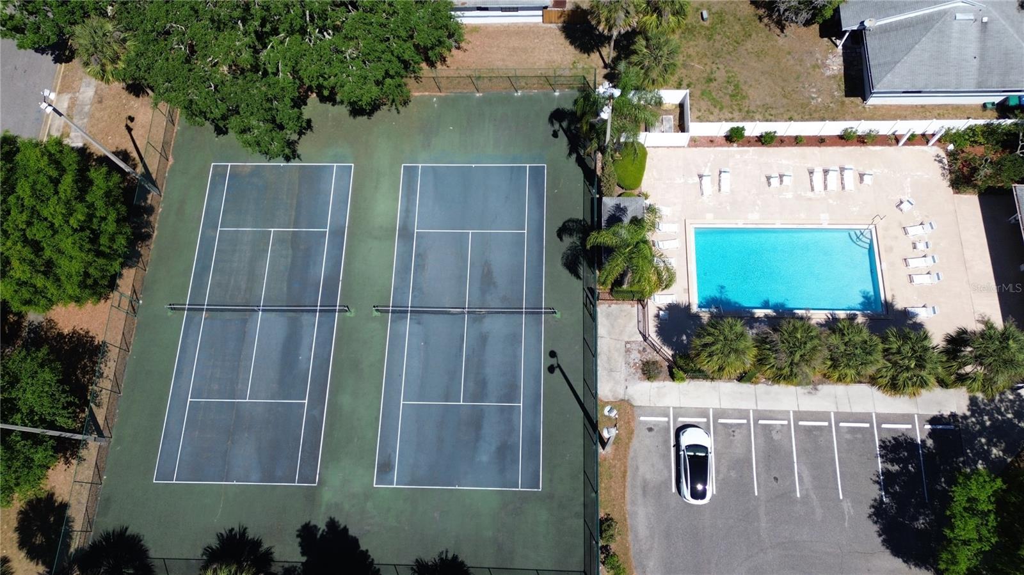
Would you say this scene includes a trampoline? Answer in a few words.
No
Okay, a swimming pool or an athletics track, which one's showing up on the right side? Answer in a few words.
swimming pool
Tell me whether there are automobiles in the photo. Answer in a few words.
Yes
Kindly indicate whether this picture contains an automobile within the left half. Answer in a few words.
No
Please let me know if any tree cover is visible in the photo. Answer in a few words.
Yes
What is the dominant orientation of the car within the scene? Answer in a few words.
vertically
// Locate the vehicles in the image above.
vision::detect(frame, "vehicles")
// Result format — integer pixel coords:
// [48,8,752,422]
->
[678,428,714,504]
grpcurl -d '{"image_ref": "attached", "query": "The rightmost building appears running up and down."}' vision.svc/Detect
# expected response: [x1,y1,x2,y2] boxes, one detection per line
[994,183,1024,253]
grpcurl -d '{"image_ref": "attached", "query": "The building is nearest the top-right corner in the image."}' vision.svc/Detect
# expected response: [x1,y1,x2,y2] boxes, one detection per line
[837,0,1024,104]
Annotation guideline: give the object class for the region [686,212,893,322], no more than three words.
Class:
swimming pool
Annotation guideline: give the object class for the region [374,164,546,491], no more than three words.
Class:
tennis court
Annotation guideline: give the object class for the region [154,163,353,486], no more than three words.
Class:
tennis court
